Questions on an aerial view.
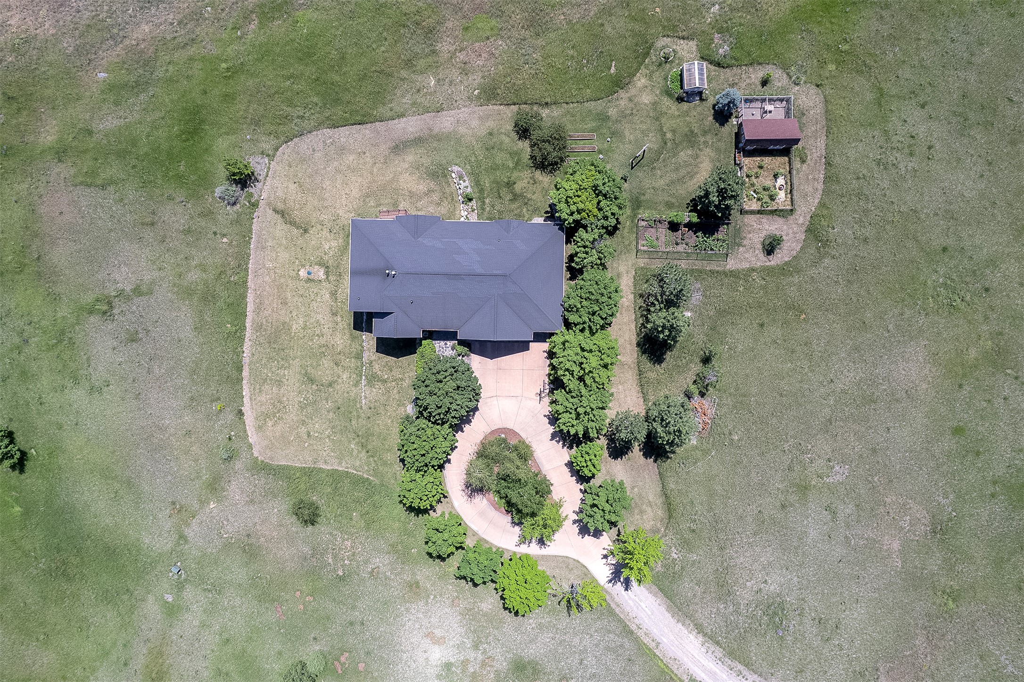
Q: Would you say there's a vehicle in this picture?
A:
No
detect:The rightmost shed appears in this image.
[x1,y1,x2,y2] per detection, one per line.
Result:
[739,119,801,149]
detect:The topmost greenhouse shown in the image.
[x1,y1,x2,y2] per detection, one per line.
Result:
[681,61,707,94]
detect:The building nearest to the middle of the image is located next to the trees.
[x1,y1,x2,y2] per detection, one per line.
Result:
[348,214,566,341]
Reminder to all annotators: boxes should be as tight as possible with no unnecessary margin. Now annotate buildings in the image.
[348,214,566,341]
[739,119,801,149]
[681,61,707,94]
